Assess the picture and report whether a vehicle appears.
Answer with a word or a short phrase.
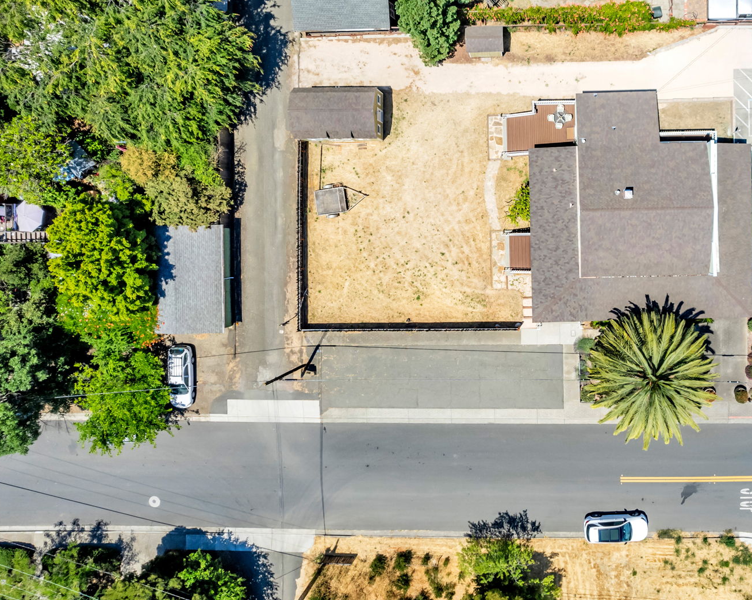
Yes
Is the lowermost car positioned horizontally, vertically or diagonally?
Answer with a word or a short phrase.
horizontally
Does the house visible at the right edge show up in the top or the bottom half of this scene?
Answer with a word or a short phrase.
top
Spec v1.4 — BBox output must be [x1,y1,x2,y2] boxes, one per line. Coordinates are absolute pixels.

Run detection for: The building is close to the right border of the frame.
[528,91,752,324]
